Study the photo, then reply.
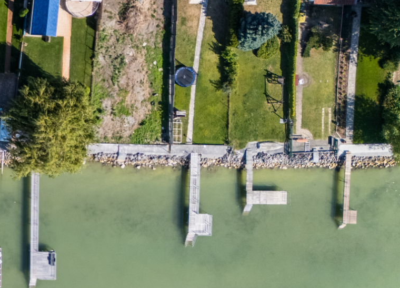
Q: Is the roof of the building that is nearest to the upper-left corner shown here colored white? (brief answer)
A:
No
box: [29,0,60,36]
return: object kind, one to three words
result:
building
